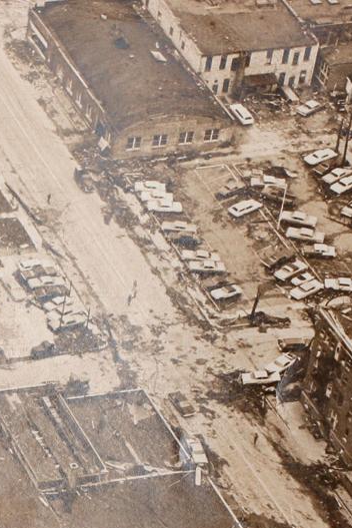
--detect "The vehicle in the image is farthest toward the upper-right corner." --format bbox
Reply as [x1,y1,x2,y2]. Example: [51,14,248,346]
[294,97,324,115]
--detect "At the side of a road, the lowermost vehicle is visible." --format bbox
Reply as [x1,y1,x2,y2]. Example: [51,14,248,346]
[186,437,208,465]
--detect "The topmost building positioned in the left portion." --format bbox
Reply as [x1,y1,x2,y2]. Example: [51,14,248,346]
[21,0,242,159]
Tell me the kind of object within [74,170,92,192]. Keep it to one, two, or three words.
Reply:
car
